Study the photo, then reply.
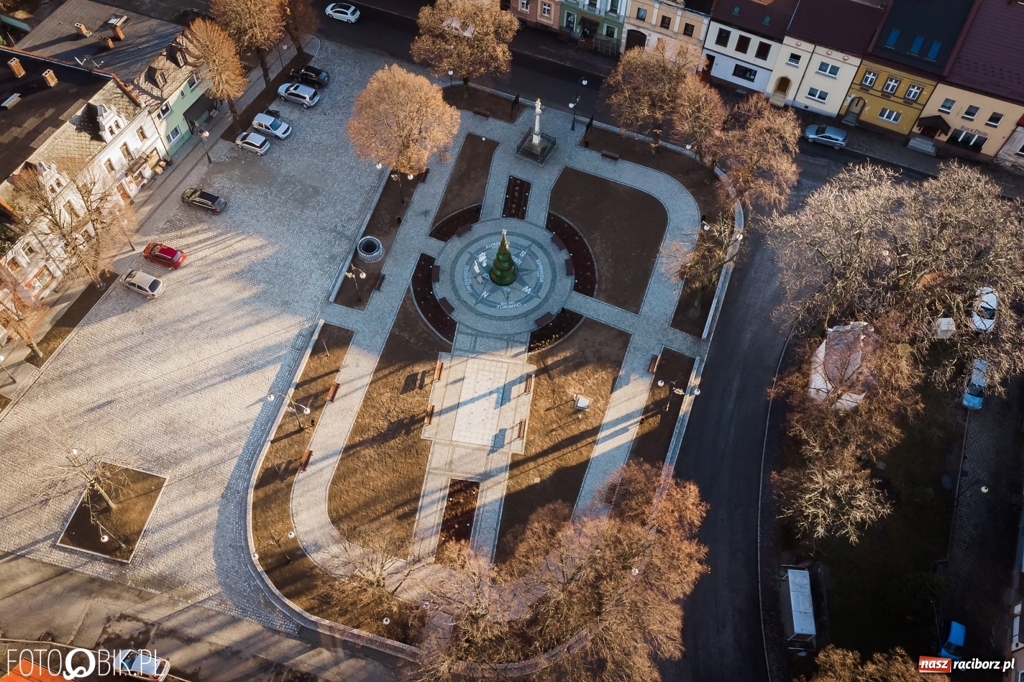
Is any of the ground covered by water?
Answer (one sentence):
No, no water is visible.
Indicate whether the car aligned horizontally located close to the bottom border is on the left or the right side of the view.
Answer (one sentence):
You can find the car aligned horizontally located close to the bottom border on the left side of the picture.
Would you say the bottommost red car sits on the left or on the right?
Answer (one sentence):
The bottommost red car sits on the left side.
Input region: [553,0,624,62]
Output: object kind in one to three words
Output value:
house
